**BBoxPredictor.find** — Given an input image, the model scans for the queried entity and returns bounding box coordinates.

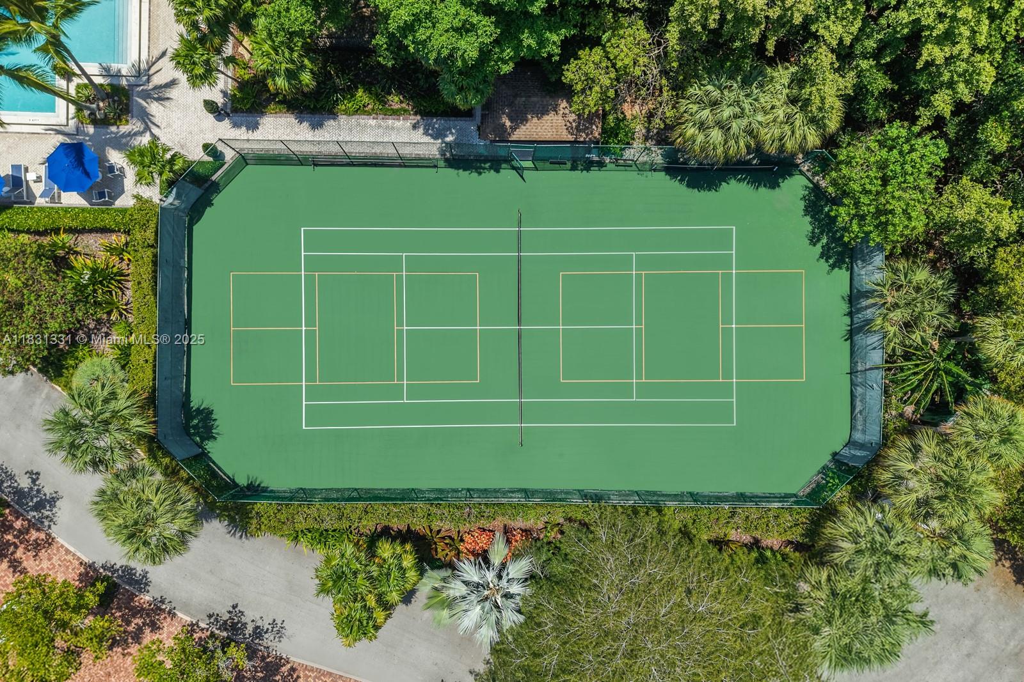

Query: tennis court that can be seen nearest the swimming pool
[186,156,848,493]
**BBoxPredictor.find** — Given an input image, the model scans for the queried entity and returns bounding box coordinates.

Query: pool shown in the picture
[0,0,150,133]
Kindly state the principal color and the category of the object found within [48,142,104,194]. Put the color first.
blue umbrella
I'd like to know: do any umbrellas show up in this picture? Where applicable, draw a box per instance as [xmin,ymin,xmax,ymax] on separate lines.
[48,142,104,194]
[0,171,12,200]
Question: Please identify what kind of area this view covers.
sports ground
